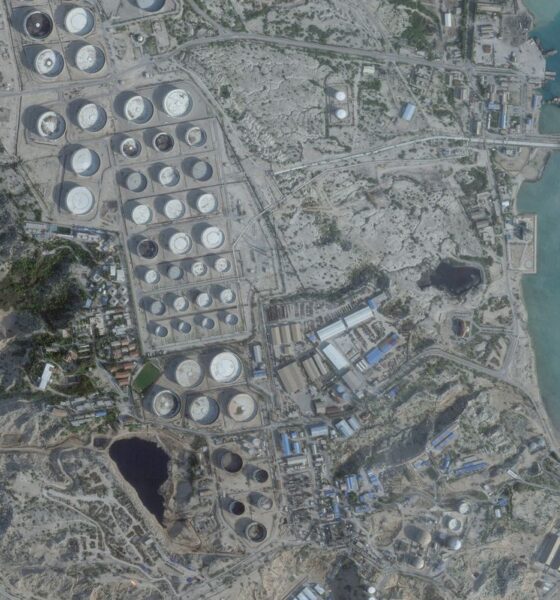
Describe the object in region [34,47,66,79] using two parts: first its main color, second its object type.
white storage tank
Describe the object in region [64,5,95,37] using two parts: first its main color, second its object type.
white storage tank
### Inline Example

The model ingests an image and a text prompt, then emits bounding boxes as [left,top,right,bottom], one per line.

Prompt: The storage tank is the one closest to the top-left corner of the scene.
[23,9,55,40]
